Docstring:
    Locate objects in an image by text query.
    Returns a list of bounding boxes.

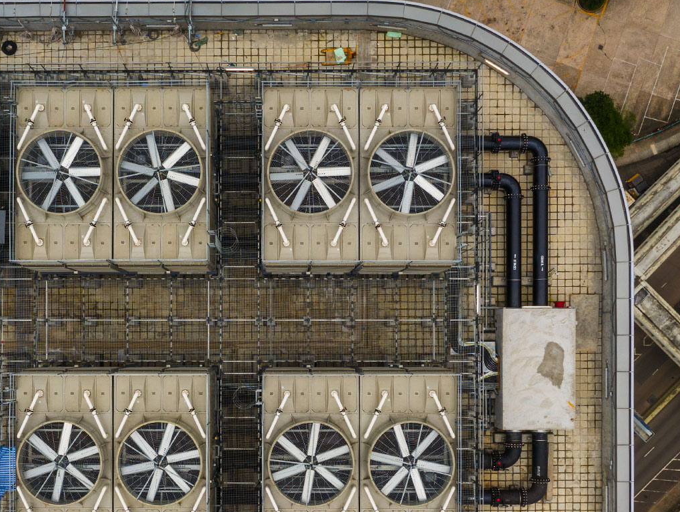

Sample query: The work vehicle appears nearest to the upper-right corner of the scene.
[619,166,650,194]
